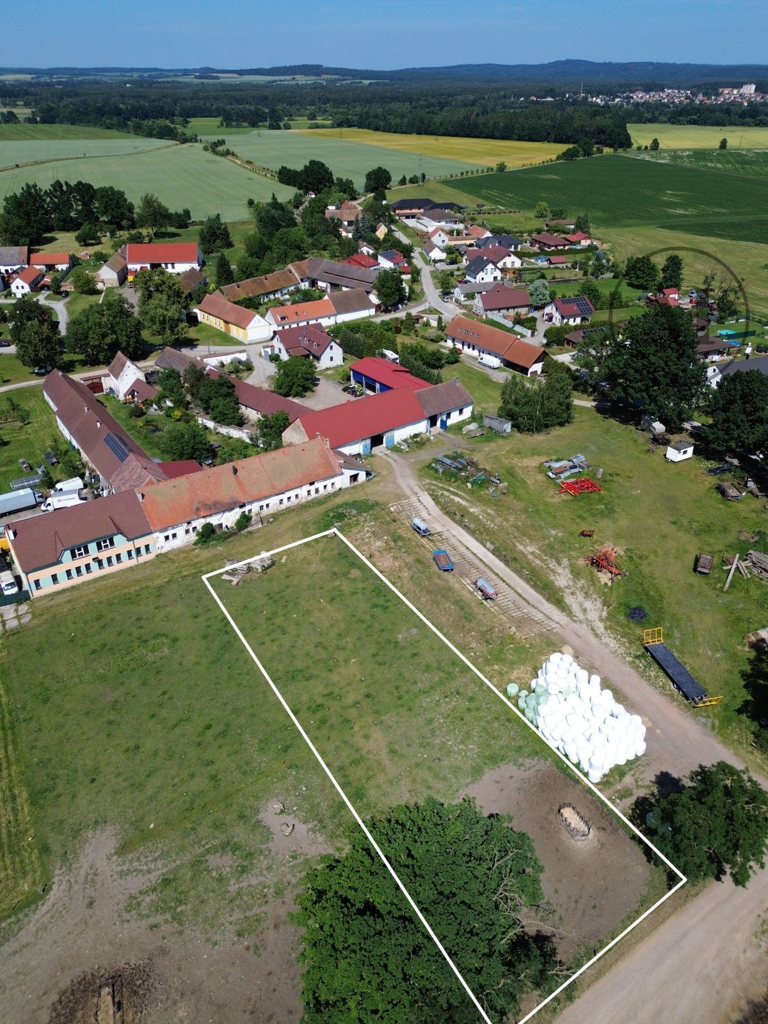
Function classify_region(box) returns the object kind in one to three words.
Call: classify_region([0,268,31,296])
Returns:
house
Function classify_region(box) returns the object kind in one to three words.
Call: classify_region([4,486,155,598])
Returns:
building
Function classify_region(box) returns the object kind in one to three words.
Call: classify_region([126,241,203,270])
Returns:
barn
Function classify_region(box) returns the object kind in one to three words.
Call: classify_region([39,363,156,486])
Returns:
house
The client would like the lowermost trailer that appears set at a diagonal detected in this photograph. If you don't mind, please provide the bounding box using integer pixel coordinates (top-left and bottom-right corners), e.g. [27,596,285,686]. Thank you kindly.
[644,629,713,703]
